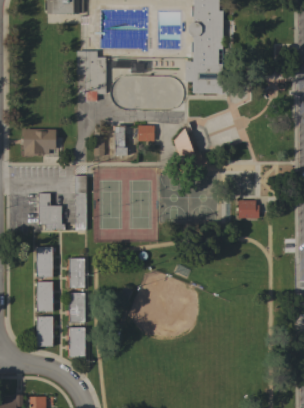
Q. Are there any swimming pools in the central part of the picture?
No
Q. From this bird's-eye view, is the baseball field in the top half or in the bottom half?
bottom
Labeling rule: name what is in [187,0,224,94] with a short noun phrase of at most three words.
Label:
building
